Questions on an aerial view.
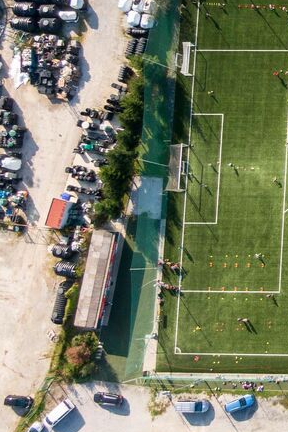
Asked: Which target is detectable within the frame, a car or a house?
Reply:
car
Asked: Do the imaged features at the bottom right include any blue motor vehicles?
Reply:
Yes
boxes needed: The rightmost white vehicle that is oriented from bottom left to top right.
[43,398,80,427]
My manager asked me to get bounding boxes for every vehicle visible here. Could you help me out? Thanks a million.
[174,400,212,416]
[43,398,80,427]
[26,420,46,432]
[223,394,257,414]
[4,395,35,409]
[92,391,125,407]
